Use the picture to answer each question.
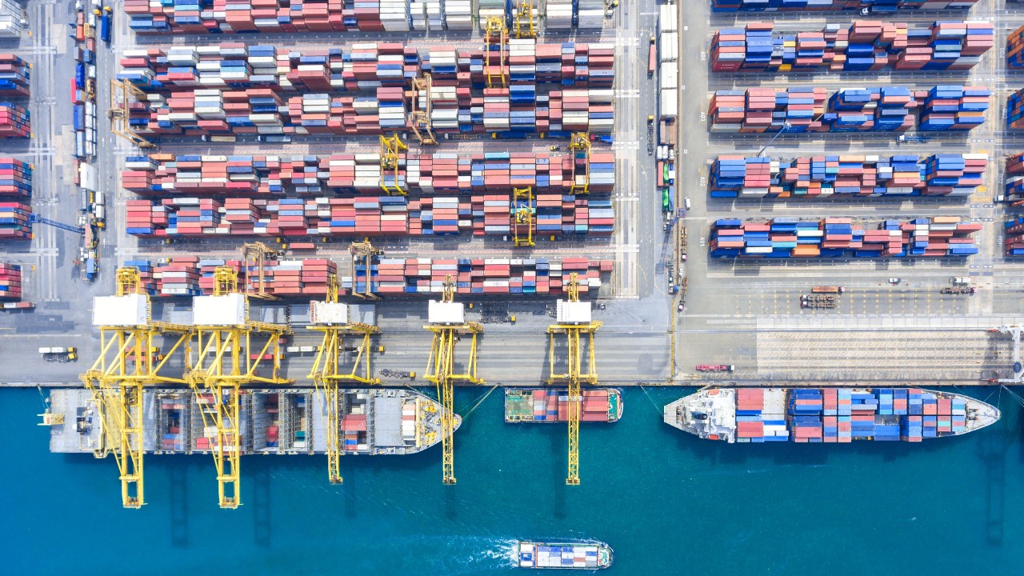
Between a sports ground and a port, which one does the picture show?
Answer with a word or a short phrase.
port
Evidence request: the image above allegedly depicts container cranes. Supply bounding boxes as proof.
[302,272,386,487]
[81,270,215,510]
[512,184,537,249]
[111,83,158,147]
[351,234,385,301]
[245,236,284,302]
[513,0,539,40]
[185,269,300,510]
[974,325,1024,377]
[379,130,411,197]
[541,271,603,488]
[569,125,594,196]
[410,76,441,146]
[421,272,491,488]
